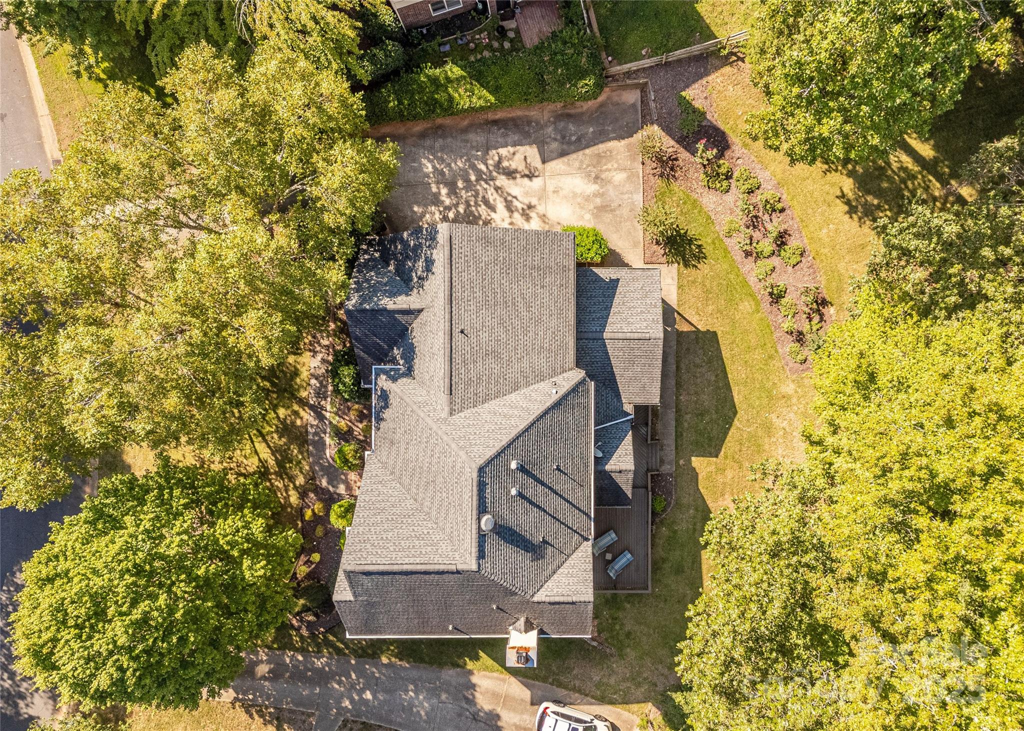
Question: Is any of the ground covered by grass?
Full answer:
Yes, grass shows up in the scene.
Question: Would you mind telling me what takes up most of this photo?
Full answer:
The largest share of the image is taken up by trees.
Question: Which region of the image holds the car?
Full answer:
The car is in the bottom part of the image.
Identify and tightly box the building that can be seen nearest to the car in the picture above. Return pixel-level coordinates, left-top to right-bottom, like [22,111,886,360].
[333,223,666,668]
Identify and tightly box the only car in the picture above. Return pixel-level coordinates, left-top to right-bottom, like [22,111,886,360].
[540,698,611,731]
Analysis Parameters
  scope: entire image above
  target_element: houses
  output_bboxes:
[394,0,475,31]
[333,223,666,668]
